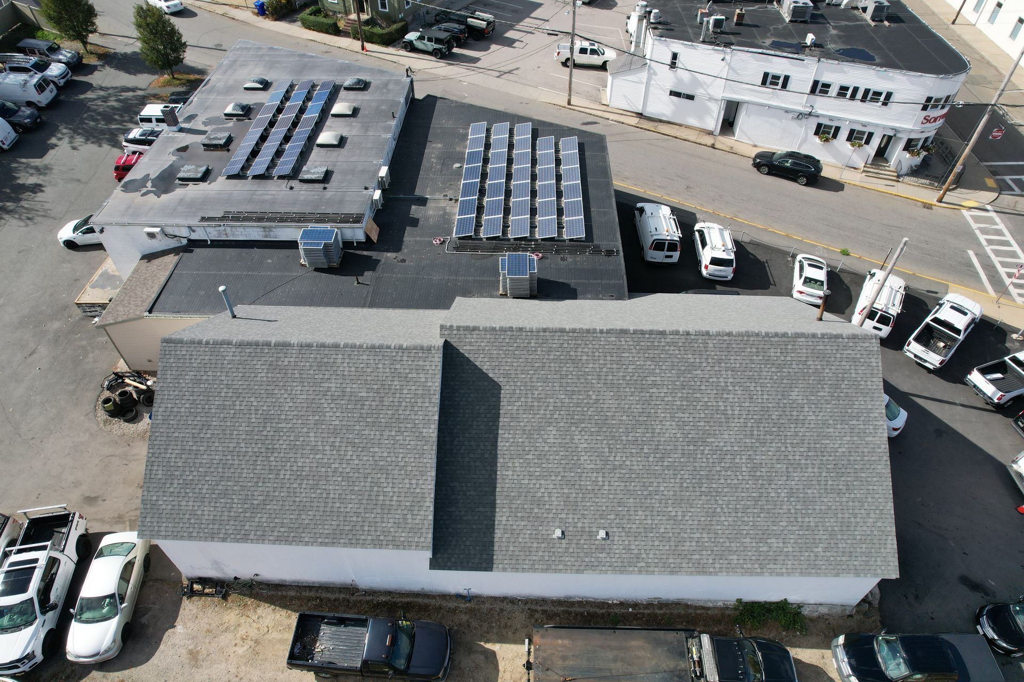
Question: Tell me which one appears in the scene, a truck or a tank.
truck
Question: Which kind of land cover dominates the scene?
buildings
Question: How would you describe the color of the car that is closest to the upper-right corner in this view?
black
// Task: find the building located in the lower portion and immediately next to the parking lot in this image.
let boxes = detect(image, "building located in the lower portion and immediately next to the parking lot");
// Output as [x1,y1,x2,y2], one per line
[137,296,898,615]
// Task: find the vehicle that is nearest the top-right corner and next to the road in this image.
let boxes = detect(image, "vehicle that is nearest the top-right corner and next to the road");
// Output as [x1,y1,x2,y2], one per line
[751,150,824,186]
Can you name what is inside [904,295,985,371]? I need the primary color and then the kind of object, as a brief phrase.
white truck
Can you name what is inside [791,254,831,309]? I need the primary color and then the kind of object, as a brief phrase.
white car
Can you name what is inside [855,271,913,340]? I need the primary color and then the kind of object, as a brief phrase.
white van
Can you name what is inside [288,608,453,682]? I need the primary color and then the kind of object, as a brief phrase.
black truck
